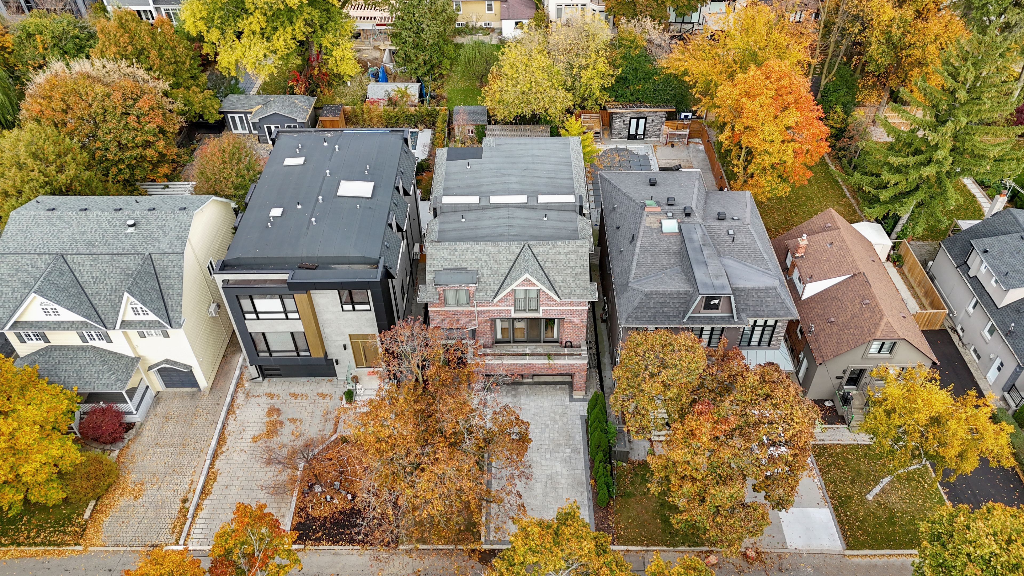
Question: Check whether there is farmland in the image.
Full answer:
No, the picture contains no farmland.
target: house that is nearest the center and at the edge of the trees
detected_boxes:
[417,136,604,397]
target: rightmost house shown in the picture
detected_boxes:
[932,190,1024,420]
